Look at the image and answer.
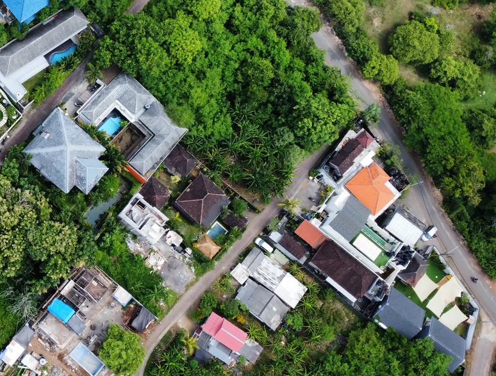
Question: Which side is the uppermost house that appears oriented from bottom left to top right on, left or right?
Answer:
left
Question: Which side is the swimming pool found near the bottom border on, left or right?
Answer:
left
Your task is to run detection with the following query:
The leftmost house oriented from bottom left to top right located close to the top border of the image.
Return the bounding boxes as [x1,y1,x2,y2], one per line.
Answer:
[0,7,90,100]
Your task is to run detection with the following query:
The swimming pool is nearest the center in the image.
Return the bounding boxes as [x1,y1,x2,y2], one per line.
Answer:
[205,221,228,241]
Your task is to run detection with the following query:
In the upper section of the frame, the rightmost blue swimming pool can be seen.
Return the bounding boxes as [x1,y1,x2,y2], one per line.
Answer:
[96,112,123,137]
